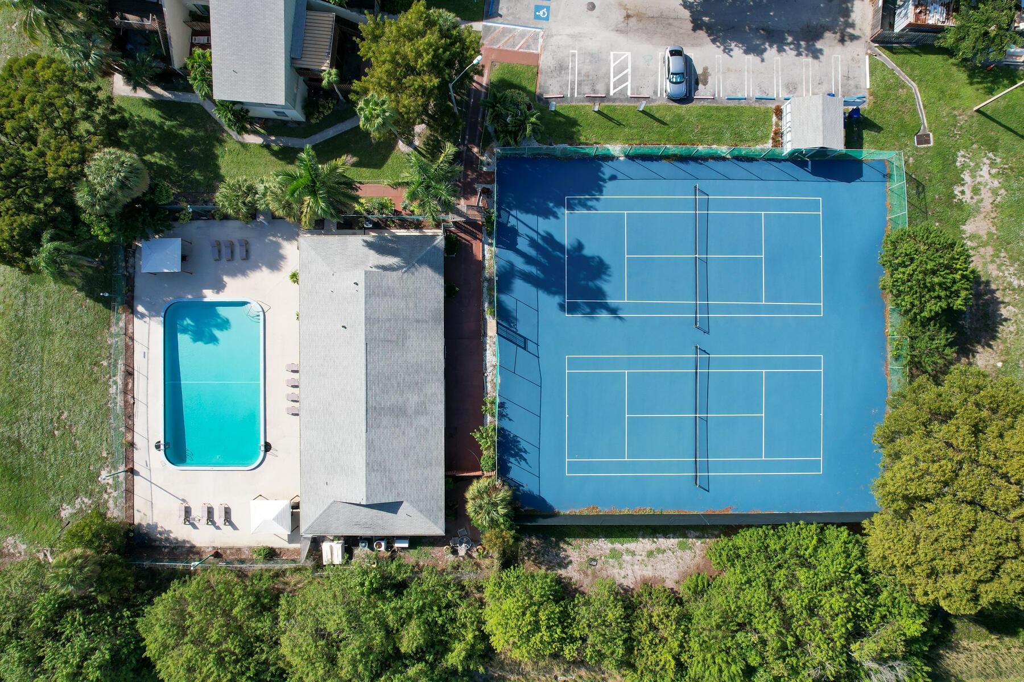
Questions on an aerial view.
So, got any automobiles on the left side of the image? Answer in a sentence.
No, looking on the left side of the image, there is no automobile.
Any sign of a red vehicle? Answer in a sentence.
No, this view has no red vehicle in it.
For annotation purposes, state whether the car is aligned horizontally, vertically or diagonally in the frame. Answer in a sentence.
What the image shows is the car lying vertically.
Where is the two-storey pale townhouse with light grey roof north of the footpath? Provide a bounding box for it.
[213,0,342,120]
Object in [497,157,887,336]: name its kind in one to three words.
tennis court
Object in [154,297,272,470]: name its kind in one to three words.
swimming pool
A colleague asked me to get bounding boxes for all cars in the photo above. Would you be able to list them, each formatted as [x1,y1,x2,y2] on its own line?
[664,44,689,100]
